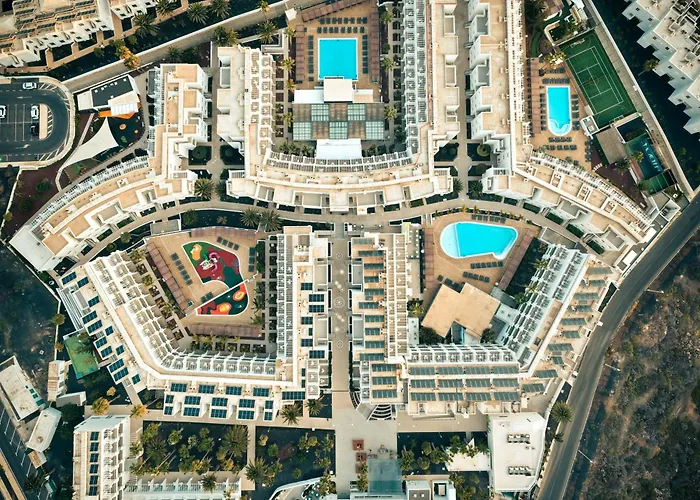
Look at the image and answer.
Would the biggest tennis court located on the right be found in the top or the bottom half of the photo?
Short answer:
top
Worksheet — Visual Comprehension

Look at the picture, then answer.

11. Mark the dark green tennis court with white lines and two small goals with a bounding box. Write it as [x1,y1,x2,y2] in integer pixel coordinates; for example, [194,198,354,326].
[558,29,637,128]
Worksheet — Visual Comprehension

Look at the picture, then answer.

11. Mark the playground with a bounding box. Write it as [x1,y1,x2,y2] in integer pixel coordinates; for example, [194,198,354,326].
[182,241,249,316]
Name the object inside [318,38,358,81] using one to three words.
swimming pool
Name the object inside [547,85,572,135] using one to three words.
swimming pool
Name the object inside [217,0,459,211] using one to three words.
building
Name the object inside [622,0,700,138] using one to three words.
building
